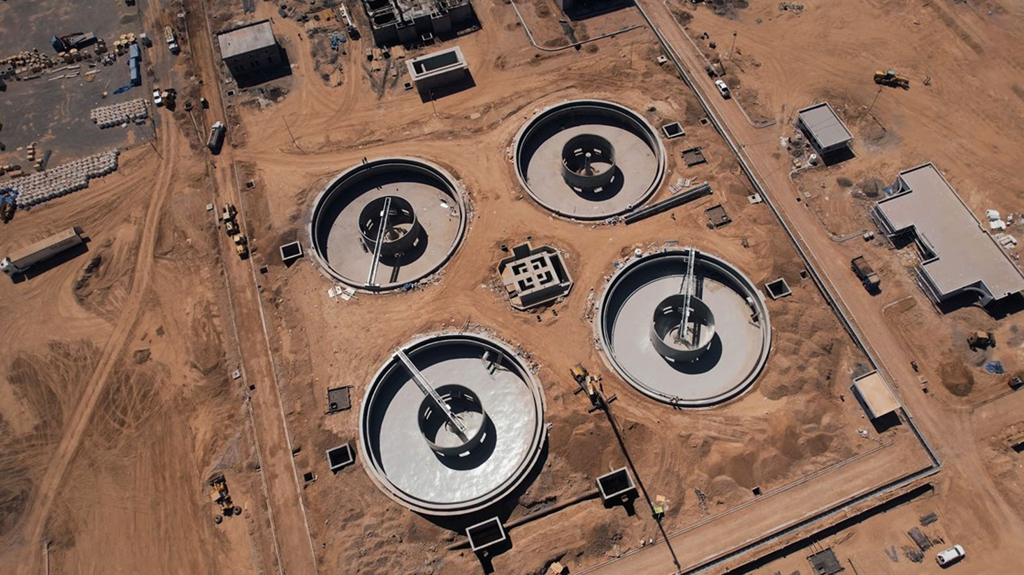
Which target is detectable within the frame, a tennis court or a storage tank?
storage tank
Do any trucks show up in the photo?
Yes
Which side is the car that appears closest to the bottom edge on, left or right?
right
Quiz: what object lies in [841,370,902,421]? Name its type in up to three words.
building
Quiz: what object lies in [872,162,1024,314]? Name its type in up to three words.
building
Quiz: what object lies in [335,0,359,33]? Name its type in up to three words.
truck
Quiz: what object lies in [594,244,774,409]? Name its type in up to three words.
storage tank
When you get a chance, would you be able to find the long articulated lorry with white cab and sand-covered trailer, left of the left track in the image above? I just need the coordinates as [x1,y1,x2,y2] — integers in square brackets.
[0,224,91,278]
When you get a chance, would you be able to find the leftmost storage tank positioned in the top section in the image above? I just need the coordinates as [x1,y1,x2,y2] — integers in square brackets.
[308,157,469,292]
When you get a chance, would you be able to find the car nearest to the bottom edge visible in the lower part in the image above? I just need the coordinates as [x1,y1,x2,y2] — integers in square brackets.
[932,542,970,566]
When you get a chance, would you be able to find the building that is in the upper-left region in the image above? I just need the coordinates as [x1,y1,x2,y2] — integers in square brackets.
[217,19,284,78]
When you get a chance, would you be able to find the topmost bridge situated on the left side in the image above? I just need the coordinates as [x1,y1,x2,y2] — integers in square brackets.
[363,196,395,288]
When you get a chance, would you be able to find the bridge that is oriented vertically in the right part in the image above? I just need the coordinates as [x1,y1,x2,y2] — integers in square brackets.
[679,244,701,338]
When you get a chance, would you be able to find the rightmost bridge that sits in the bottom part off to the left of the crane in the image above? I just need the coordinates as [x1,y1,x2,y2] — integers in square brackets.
[390,345,466,432]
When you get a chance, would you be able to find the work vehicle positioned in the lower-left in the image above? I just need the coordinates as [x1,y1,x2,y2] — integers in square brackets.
[210,475,231,514]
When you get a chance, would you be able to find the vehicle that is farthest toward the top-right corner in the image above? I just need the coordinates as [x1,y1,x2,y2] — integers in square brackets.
[877,65,914,89]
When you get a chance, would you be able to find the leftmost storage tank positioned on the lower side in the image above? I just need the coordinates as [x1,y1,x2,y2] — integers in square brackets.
[355,333,548,519]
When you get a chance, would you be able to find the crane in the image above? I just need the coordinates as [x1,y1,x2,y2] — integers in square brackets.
[571,360,624,440]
